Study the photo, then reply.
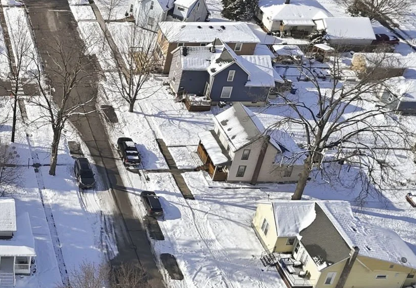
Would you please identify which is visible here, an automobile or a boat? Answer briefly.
automobile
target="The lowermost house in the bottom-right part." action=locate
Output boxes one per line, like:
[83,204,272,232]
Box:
[250,187,415,288]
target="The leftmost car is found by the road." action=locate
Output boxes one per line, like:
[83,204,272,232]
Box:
[72,157,101,191]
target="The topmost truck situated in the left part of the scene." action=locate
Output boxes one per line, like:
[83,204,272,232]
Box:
[117,139,147,170]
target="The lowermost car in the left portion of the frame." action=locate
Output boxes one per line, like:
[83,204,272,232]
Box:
[139,191,168,220]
